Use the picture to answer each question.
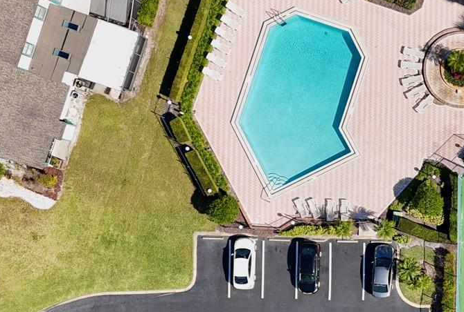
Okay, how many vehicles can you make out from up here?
3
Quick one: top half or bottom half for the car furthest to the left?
bottom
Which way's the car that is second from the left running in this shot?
from top to bottom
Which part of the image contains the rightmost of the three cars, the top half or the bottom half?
bottom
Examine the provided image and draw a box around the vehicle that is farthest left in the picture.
[229,236,256,290]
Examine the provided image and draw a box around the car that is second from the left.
[295,240,321,294]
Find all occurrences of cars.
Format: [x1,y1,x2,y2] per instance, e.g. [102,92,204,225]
[370,242,395,298]
[229,236,256,290]
[295,240,321,294]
